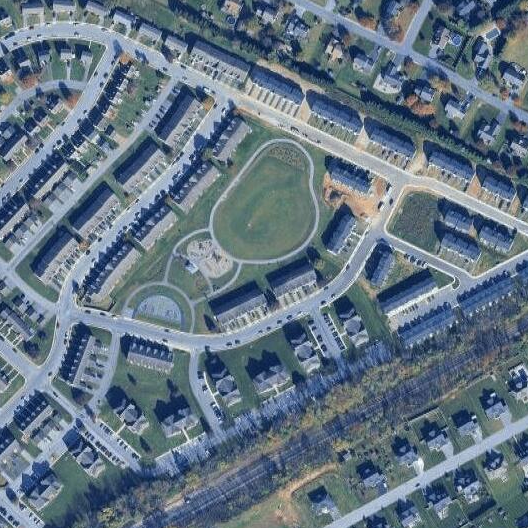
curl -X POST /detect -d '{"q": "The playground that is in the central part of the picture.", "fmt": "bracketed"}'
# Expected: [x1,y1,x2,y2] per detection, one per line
[188,237,233,278]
